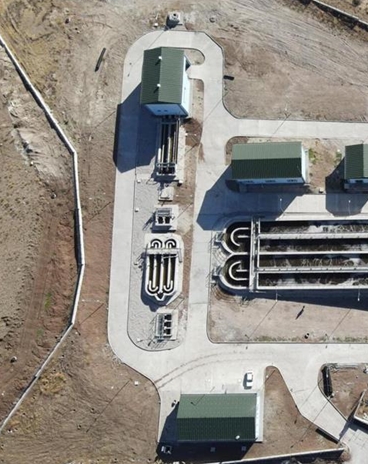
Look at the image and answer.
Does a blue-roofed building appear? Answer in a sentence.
No, no blue-roofed building is visible in the view.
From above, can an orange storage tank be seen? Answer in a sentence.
No, I find no orange storage tank anywhere in the image.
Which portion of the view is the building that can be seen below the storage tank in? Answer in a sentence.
Look in the bottom portion of the view to spot the building that can be seen below the storage tank.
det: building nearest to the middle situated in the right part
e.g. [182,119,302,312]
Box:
[228,141,305,185]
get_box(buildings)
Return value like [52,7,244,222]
[344,141,368,181]
[140,44,195,117]
[228,141,305,185]
[173,392,261,444]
